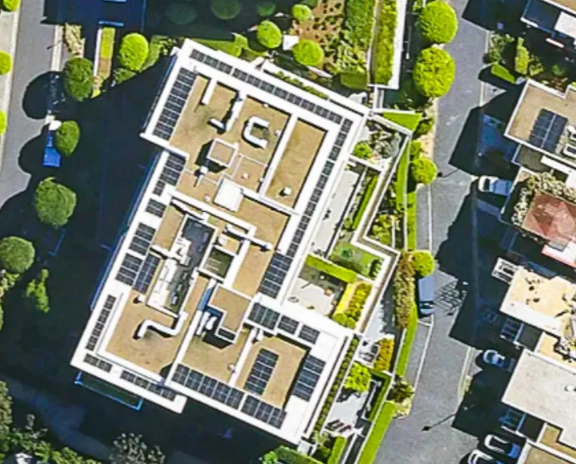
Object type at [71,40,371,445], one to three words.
building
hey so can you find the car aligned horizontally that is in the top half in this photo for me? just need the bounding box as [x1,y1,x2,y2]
[477,176,513,194]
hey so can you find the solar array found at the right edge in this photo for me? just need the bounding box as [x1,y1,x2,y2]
[529,108,568,153]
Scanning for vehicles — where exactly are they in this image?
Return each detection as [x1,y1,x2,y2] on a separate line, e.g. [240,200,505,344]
[43,120,63,168]
[477,176,513,194]
[476,348,512,368]
[485,435,521,456]
[470,453,505,464]
[417,276,436,315]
